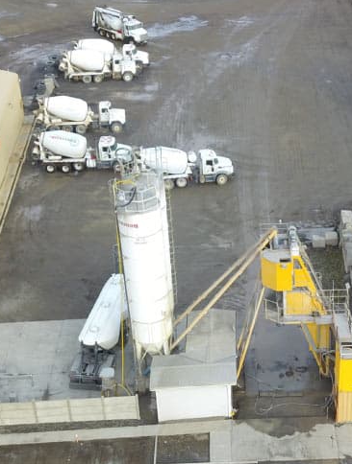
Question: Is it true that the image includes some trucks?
Yes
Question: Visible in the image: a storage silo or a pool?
storage silo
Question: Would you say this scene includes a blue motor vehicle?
No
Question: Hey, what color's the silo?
white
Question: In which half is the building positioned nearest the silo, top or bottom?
bottom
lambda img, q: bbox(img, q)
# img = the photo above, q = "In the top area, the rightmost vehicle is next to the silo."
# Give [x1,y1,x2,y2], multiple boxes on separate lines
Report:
[136,137,235,182]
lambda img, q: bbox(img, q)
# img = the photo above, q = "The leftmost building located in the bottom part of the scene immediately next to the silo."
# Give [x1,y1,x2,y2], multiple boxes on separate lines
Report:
[149,312,238,422]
